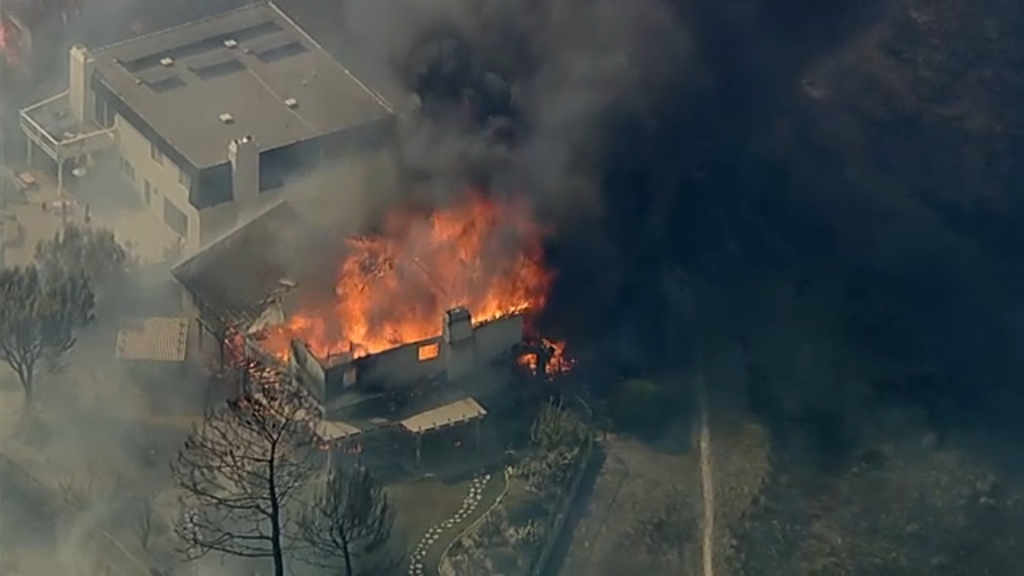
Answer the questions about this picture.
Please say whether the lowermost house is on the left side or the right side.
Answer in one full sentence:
You can find the lowermost house on the left side of the picture.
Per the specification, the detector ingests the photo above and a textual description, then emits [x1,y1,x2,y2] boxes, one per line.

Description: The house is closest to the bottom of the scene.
[167,198,530,408]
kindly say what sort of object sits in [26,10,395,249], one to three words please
house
